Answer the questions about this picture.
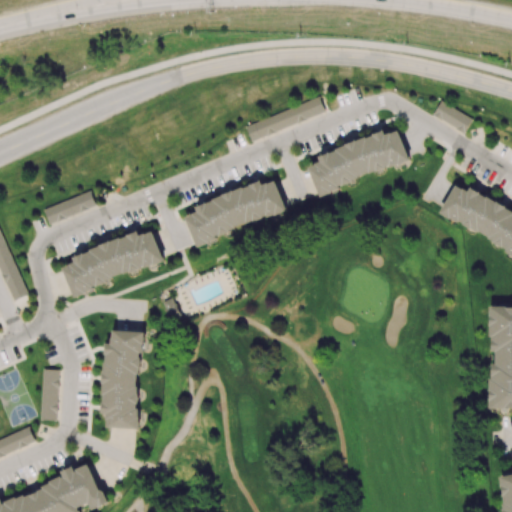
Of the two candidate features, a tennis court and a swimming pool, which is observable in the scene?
swimming pool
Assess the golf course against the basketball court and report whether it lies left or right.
right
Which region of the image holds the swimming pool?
center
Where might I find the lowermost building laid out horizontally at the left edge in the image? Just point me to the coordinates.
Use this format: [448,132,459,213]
[0,466,98,512]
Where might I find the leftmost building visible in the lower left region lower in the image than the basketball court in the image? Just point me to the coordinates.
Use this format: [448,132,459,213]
[0,426,35,456]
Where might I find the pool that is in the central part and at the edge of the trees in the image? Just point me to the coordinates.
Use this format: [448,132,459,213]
[178,266,238,316]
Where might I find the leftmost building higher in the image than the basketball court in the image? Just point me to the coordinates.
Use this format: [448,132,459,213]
[0,235,28,301]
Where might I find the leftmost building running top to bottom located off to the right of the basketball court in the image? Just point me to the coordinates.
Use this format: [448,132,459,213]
[44,369,60,421]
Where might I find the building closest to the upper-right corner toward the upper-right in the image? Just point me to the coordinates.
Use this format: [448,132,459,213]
[435,101,474,132]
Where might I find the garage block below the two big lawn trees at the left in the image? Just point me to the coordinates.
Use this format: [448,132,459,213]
[44,190,96,226]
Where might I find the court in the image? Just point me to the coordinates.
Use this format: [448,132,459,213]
[0,368,38,426]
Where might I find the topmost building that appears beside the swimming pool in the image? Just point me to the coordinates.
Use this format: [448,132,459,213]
[186,180,287,247]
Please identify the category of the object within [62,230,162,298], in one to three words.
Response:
building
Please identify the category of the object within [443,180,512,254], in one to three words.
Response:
building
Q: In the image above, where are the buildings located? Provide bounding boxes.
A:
[99,330,142,430]
[0,426,35,456]
[44,190,96,226]
[0,466,98,512]
[435,101,474,132]
[497,480,512,512]
[485,310,512,408]
[62,230,162,298]
[44,369,60,421]
[311,130,412,196]
[0,235,28,301]
[443,180,512,254]
[246,94,326,143]
[186,180,287,247]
